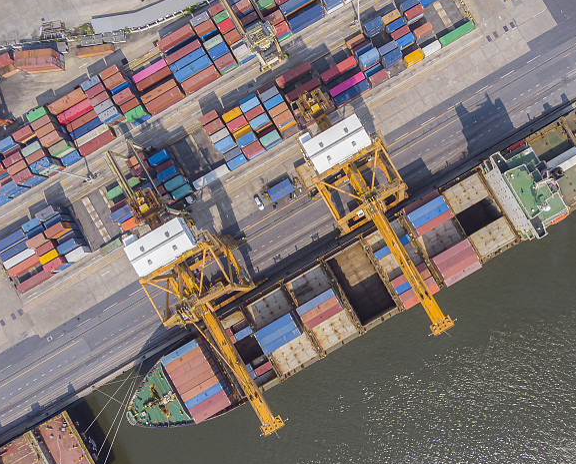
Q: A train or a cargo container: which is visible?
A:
cargo container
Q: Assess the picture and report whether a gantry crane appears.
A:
Yes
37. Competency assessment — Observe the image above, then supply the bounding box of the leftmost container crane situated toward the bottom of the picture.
[116,184,281,434]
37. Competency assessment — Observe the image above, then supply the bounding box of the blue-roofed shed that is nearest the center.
[267,179,295,202]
